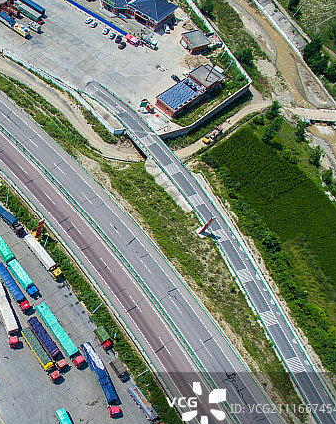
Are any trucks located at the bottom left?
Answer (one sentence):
Yes, the scene does show a truck at the bottom left.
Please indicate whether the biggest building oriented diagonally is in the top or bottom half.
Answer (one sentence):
It is in the top half that the biggest building oriented diagonally appears.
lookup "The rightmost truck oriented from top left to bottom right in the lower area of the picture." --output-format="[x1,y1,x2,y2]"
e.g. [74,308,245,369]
[125,384,161,424]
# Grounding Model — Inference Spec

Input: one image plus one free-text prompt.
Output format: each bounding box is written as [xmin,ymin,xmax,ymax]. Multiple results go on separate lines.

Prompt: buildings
[100,0,179,30]
[155,62,225,119]
[178,29,212,58]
